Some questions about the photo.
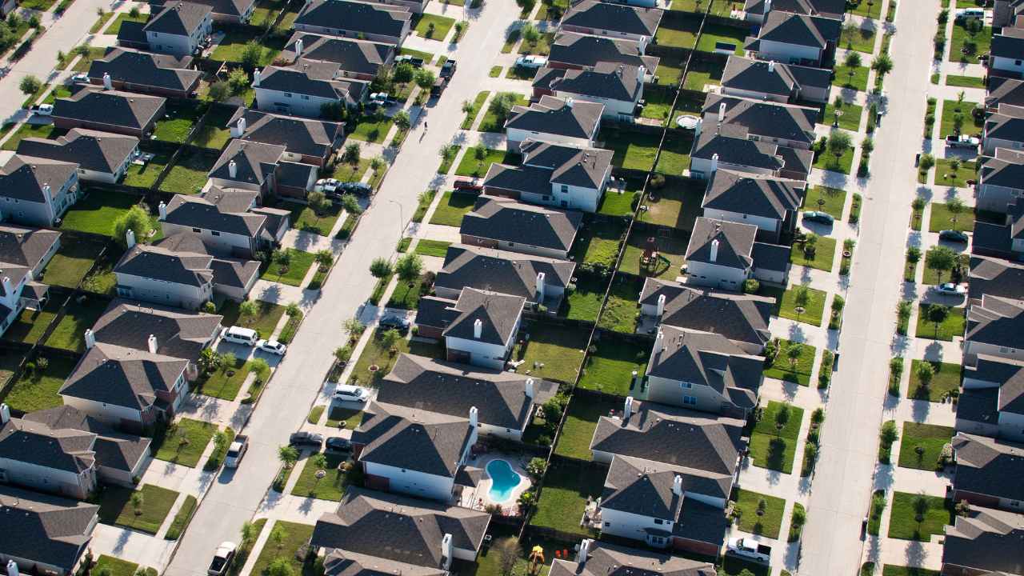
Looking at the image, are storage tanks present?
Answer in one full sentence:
No, this view has no storage tank in it.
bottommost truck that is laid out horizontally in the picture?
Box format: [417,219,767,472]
[728,537,773,558]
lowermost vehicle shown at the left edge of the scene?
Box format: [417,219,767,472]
[26,100,55,115]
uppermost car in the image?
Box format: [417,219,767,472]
[956,5,984,19]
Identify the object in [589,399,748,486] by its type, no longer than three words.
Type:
house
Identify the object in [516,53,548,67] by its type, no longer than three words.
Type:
vehicle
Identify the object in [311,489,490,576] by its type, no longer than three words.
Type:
house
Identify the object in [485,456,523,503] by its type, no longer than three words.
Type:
swimming pool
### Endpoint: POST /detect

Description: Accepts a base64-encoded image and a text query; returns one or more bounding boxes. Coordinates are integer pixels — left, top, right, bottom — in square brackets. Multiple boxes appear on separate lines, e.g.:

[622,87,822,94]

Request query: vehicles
[801,207,831,221]
[317,188,350,203]
[946,133,980,148]
[454,175,484,192]
[956,5,984,19]
[254,335,288,350]
[223,430,250,463]
[344,183,374,198]
[291,426,327,444]
[220,323,260,344]
[441,59,459,79]
[334,381,371,401]
[379,313,412,329]
[937,280,968,295]
[324,433,356,450]
[941,226,969,242]
[431,77,448,97]
[728,537,773,558]
[516,53,548,67]
[368,92,398,106]
[205,540,235,576]
[26,100,55,115]
[410,54,428,67]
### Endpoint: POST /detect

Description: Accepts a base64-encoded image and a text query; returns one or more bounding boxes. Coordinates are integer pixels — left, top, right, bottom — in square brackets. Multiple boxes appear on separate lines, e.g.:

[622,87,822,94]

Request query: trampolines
[676,114,699,131]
